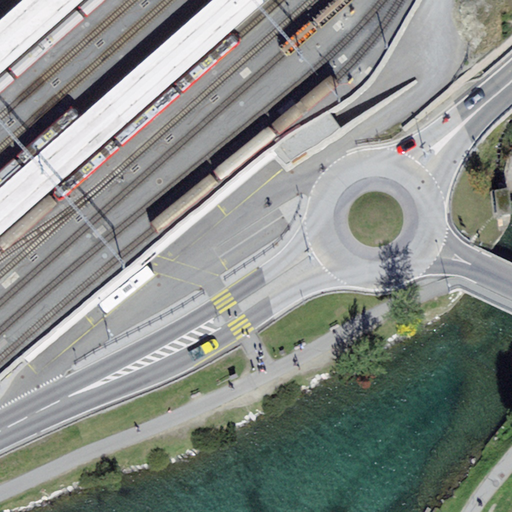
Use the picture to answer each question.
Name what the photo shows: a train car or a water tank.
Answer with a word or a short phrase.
train car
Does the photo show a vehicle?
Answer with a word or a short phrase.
Yes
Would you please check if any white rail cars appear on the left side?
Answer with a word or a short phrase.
Yes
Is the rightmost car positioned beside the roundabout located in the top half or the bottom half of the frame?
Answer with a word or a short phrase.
top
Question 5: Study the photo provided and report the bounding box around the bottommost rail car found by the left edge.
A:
[0,192,61,248]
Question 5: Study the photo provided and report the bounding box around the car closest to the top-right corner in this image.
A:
[464,88,485,108]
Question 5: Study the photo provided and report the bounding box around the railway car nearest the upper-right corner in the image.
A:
[312,0,352,28]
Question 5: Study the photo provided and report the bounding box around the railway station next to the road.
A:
[0,0,415,380]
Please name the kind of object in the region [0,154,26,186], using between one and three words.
rail car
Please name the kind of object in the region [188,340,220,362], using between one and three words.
truck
